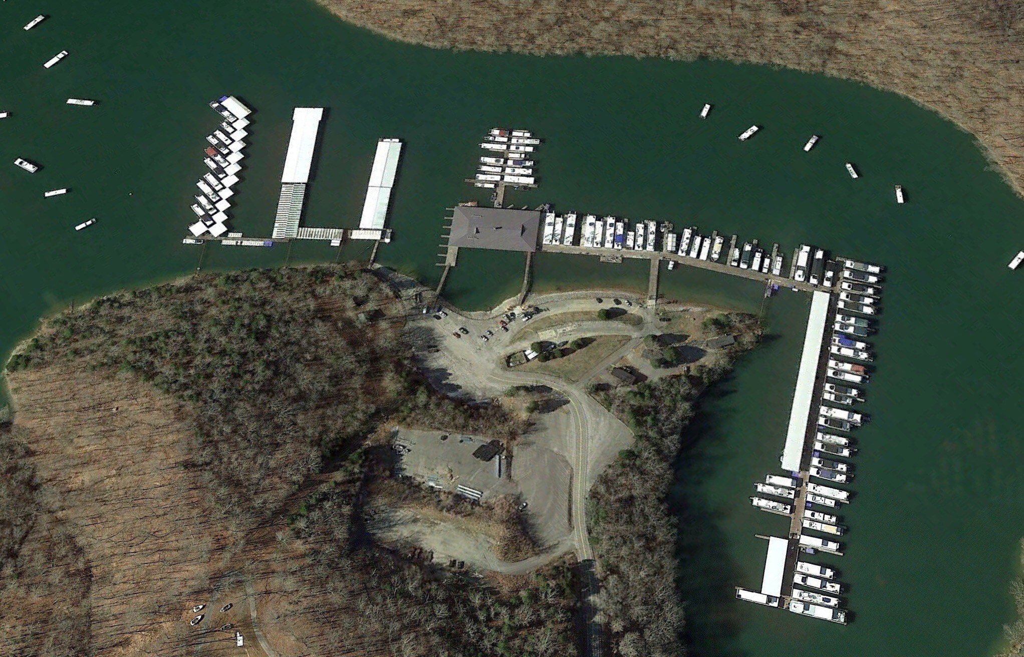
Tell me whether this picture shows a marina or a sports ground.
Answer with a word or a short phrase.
marina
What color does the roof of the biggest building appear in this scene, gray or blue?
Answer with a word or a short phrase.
gray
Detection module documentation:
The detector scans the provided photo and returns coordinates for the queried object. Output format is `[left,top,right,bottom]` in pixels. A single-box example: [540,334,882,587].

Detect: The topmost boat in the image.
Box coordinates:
[25,15,46,31]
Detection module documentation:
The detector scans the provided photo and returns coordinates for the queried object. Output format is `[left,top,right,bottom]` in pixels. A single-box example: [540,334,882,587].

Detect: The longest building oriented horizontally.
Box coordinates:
[448,206,541,253]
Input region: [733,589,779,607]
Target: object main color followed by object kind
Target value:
white boat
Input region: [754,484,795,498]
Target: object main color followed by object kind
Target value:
white boat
